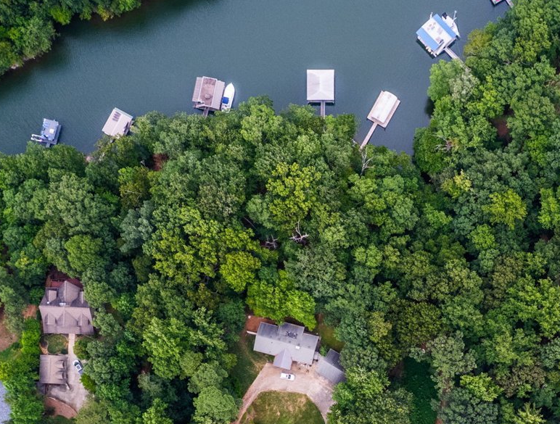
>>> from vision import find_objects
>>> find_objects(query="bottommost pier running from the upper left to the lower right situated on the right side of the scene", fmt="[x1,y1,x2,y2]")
[416,15,474,73]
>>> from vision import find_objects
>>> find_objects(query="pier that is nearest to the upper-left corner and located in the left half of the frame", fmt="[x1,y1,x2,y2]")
[40,118,62,145]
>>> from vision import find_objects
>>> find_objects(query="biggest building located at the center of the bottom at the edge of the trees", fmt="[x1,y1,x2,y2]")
[255,323,320,370]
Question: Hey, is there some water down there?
Yes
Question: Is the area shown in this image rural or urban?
rural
